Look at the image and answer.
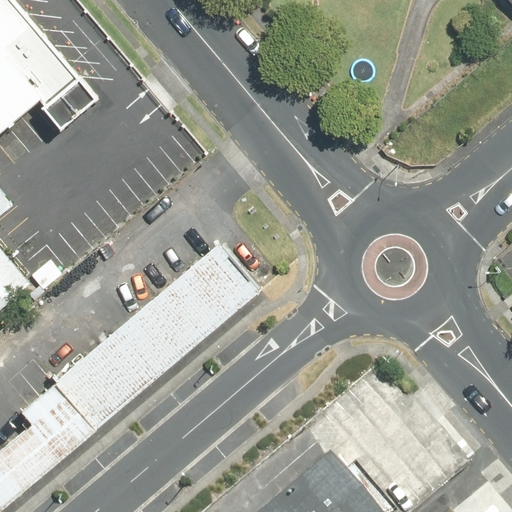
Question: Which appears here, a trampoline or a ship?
trampoline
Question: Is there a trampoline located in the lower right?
No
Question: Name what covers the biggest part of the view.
paved ground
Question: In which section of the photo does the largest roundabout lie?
right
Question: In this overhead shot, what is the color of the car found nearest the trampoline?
white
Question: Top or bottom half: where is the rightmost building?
bottom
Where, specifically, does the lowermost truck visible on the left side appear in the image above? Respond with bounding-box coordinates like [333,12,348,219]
[0,411,21,441]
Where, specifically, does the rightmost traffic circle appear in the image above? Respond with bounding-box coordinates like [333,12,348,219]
[362,233,428,300]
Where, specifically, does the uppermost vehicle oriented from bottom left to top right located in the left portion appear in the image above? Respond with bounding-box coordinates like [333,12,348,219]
[142,196,172,224]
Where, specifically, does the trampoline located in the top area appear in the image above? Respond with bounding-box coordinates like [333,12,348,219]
[350,58,376,82]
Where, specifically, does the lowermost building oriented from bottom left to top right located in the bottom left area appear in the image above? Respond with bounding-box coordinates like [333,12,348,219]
[0,384,96,510]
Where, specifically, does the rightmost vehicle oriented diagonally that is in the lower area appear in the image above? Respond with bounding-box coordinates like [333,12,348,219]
[462,384,492,416]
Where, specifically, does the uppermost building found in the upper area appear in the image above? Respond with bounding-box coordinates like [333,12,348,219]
[0,0,98,134]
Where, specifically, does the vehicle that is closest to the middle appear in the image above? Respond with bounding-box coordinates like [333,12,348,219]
[234,242,260,271]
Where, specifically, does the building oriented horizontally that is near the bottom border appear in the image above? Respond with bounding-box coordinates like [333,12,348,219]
[255,450,387,512]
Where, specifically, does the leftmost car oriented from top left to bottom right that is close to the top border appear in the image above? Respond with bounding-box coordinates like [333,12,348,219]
[164,7,192,38]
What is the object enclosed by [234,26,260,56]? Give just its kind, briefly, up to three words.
car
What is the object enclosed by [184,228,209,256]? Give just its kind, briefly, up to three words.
car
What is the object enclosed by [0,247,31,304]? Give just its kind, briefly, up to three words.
building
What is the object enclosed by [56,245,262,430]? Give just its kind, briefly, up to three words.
building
